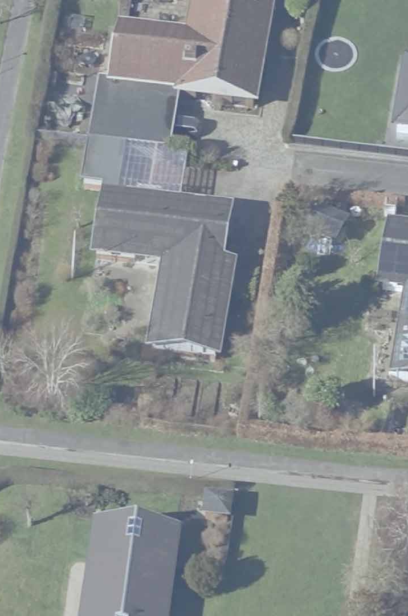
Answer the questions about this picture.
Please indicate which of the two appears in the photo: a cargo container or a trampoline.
trampoline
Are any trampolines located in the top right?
Yes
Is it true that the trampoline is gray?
Yes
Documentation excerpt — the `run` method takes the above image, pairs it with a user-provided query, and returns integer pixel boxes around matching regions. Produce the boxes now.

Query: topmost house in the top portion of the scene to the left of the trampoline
[107,0,278,108]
